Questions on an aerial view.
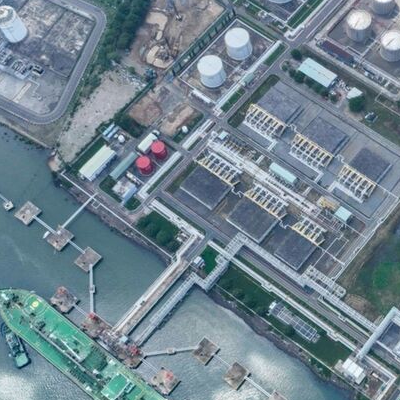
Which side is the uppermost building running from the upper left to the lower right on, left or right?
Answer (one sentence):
The uppermost building running from the upper left to the lower right is on the right side of the image.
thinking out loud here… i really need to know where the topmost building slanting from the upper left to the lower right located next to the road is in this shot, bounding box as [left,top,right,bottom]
[298,58,337,90]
